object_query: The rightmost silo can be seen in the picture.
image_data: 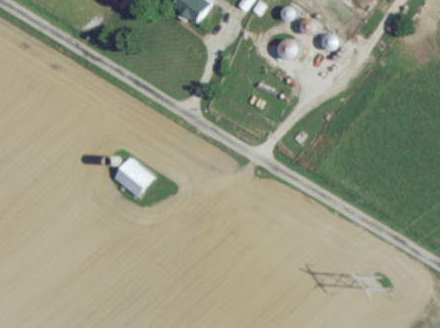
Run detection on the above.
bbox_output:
[322,33,343,52]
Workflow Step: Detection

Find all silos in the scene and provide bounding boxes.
[102,154,122,166]
[322,33,343,52]
[278,38,302,60]
[281,4,301,22]
[301,17,322,36]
